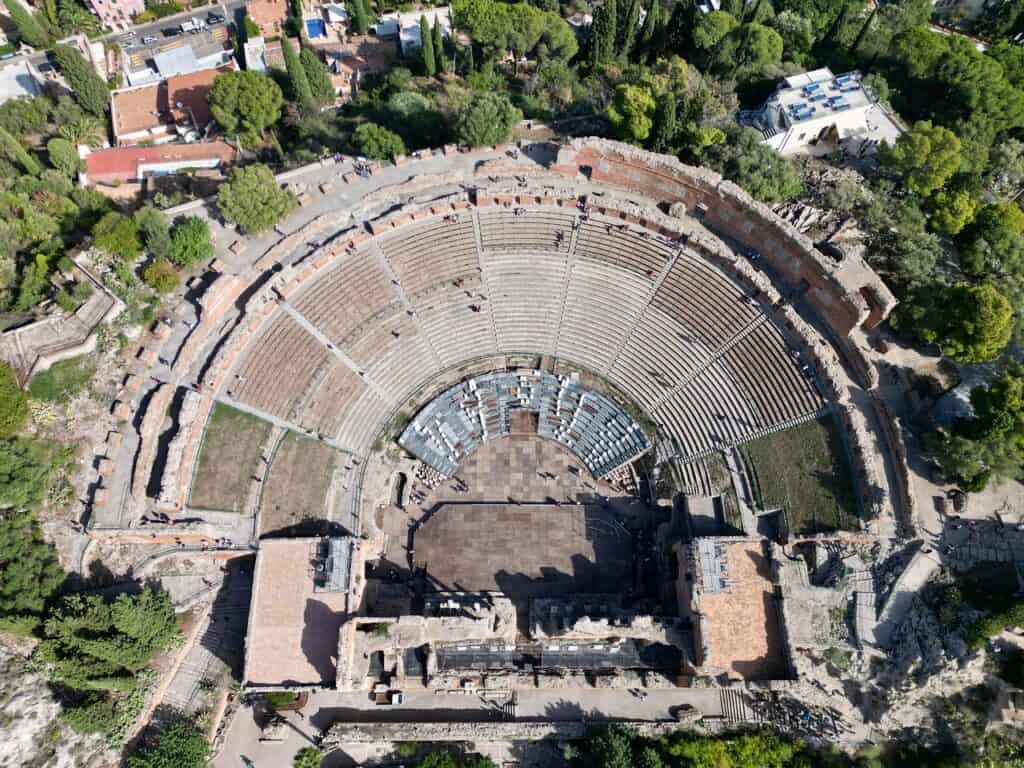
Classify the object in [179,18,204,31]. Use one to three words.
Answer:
vehicle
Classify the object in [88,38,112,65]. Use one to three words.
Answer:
house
